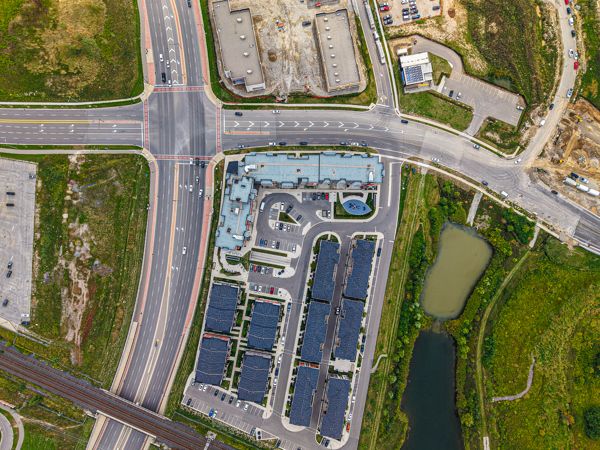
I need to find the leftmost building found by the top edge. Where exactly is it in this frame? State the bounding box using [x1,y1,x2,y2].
[213,0,265,90]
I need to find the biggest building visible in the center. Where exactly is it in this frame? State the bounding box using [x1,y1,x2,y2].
[216,152,384,250]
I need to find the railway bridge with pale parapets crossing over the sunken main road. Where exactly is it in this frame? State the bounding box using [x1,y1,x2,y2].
[89,383,173,442]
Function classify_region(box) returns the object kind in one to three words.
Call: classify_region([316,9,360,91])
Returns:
building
